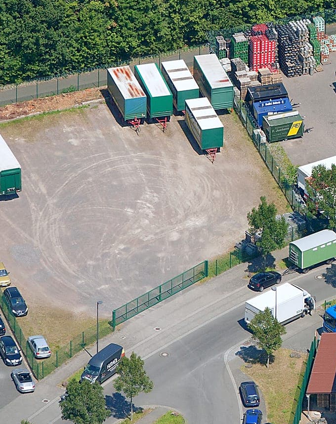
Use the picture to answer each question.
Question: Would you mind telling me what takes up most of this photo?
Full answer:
What you mostly see from above here is paved ground.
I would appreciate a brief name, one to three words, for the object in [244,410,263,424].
vehicle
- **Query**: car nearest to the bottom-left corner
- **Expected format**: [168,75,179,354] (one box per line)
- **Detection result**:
[10,365,36,392]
